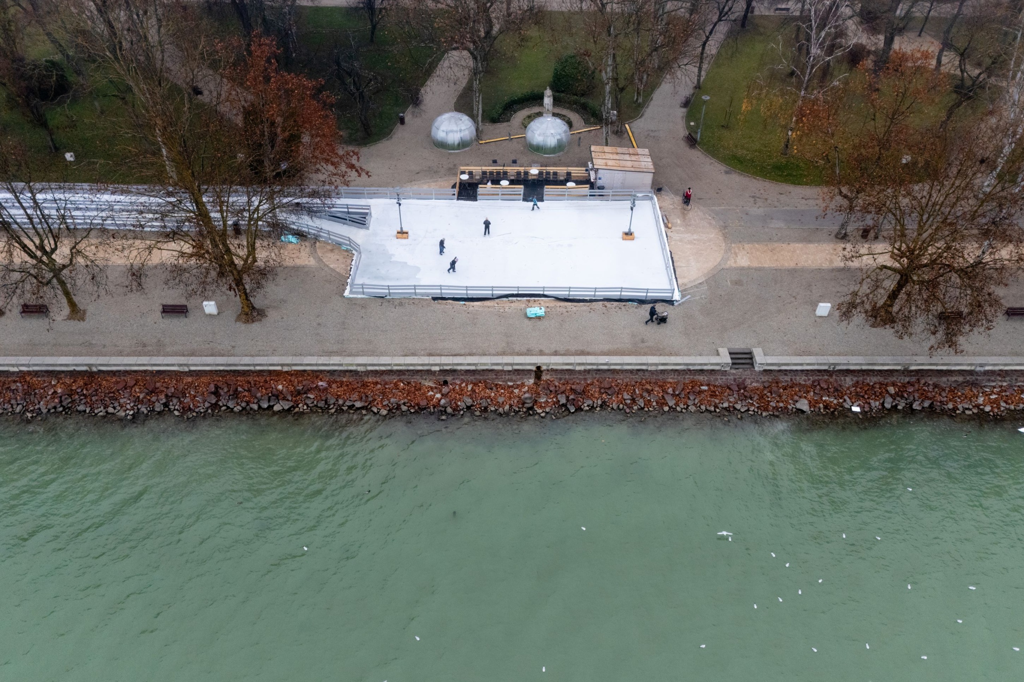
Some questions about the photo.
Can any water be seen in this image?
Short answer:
Yes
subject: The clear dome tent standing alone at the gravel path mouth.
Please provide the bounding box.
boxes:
[430,109,476,151]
